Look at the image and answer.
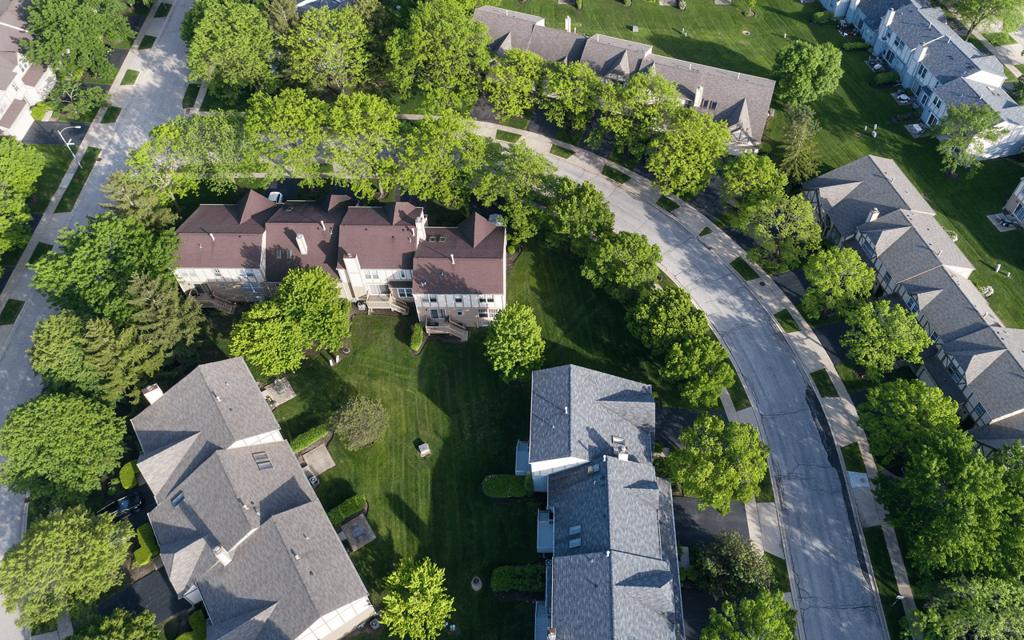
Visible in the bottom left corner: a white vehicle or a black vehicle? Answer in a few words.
black vehicle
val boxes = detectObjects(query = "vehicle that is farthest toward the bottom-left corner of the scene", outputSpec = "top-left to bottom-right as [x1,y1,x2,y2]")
[98,486,144,518]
